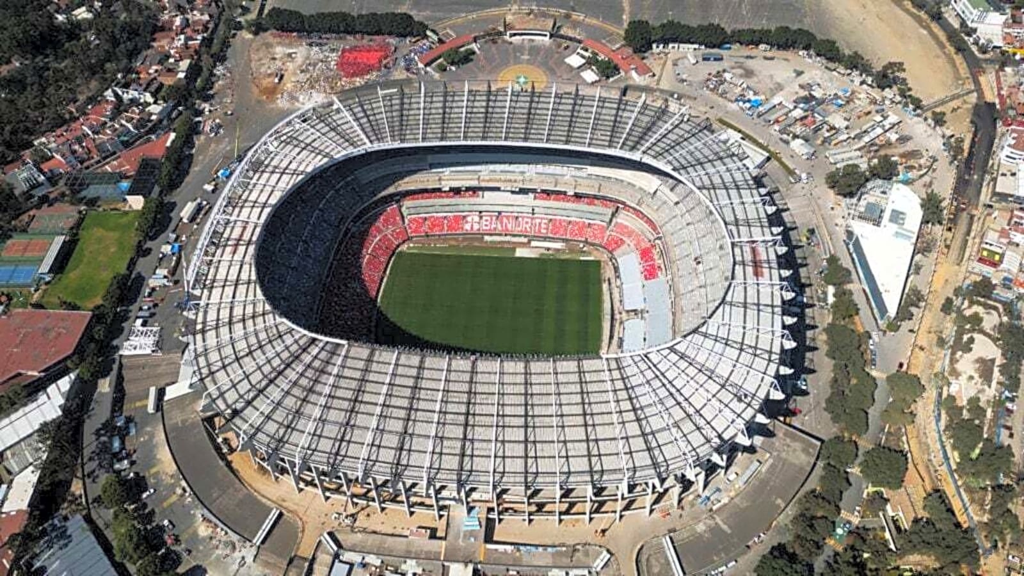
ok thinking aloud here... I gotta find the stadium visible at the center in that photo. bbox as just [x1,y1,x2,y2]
[181,77,794,525]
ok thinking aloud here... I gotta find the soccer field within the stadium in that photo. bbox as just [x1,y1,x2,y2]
[378,251,602,359]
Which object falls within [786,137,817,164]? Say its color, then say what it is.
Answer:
white tent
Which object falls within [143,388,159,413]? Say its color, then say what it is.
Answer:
white vehicle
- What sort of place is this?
sports ground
